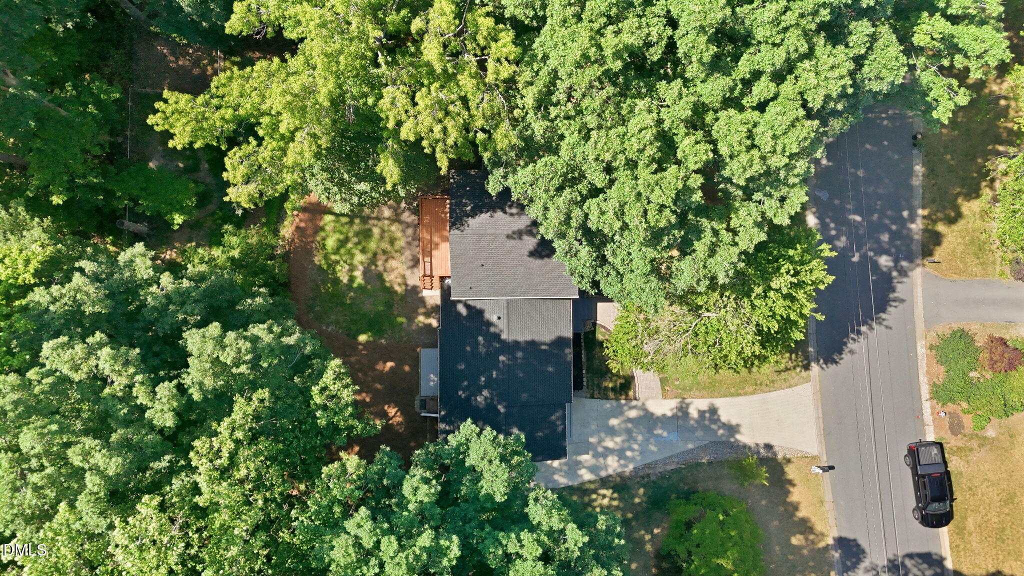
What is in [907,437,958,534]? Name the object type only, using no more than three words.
truck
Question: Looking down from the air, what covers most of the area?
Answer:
trees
